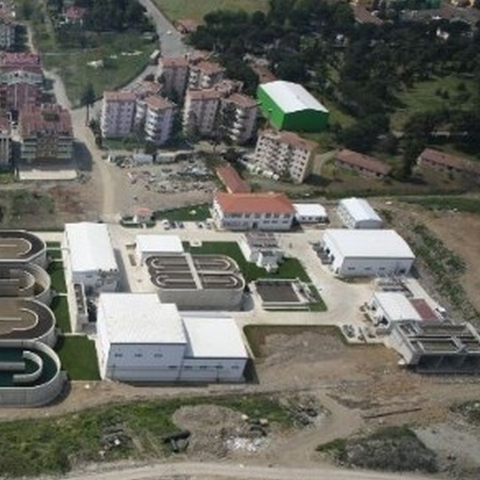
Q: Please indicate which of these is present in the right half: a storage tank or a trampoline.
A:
storage tank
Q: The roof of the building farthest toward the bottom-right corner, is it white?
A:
Yes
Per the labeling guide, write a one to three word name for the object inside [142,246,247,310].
storage tank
